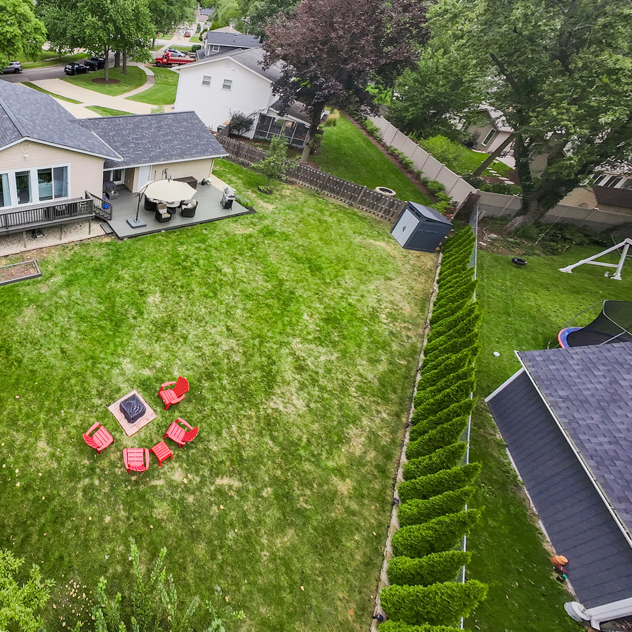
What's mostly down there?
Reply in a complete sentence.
The scene is dominated by grass.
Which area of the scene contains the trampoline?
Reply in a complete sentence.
The trampoline is located in the right region of the scene.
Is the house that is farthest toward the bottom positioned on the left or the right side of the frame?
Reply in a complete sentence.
It is on the right.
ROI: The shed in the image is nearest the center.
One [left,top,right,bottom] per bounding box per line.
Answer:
[394,203,456,252]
